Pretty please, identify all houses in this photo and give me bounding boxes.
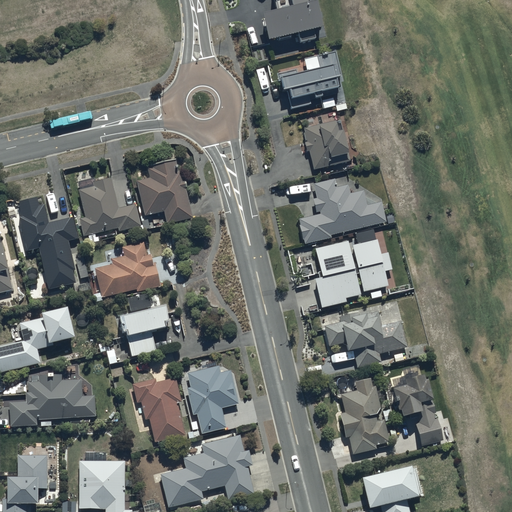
[8,374,96,428]
[95,242,161,296]
[0,306,74,372]
[160,435,254,509]
[278,50,342,109]
[364,466,421,512]
[133,378,188,442]
[78,176,140,238]
[0,238,12,294]
[136,159,190,222]
[300,178,388,244]
[340,378,392,453]
[326,310,409,372]
[118,304,169,357]
[1,455,48,512]
[394,375,444,448]
[188,366,238,434]
[265,0,324,42]
[78,461,125,512]
[304,121,352,170]
[18,196,78,290]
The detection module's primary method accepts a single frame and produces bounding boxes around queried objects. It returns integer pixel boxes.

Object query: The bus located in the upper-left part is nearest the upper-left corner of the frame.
[49,108,94,129]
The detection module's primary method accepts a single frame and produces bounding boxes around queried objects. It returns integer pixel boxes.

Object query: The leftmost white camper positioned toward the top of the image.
[46,190,58,213]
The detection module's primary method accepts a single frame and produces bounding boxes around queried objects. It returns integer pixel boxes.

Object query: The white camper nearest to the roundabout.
[256,66,270,94]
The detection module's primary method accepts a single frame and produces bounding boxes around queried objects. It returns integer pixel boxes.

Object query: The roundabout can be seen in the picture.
[160,56,242,148]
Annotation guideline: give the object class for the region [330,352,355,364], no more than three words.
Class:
vehicle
